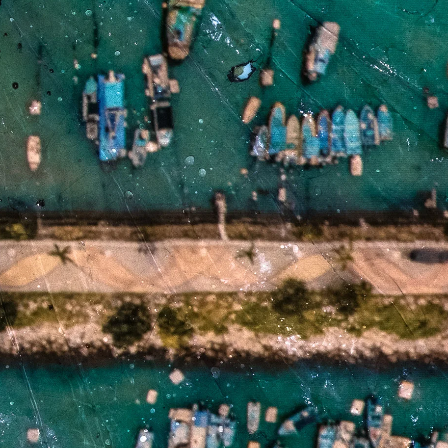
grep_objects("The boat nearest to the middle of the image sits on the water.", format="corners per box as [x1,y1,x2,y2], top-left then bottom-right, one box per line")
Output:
[252,125,270,162]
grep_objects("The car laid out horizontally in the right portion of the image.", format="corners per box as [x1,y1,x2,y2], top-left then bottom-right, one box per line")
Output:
[405,247,448,265]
